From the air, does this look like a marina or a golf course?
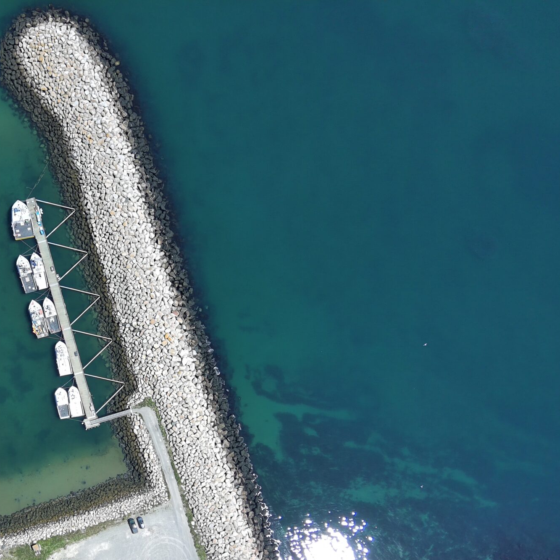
marina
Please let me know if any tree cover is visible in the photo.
No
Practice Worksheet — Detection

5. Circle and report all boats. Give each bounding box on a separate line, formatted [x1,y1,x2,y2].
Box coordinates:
[30,299,48,338]
[32,252,49,290]
[55,387,71,419]
[13,200,33,240]
[44,297,61,334]
[67,386,84,417]
[55,340,72,376]
[18,254,37,293]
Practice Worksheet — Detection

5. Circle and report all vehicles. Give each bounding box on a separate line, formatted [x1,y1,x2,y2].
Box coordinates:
[137,515,145,531]
[127,517,139,535]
